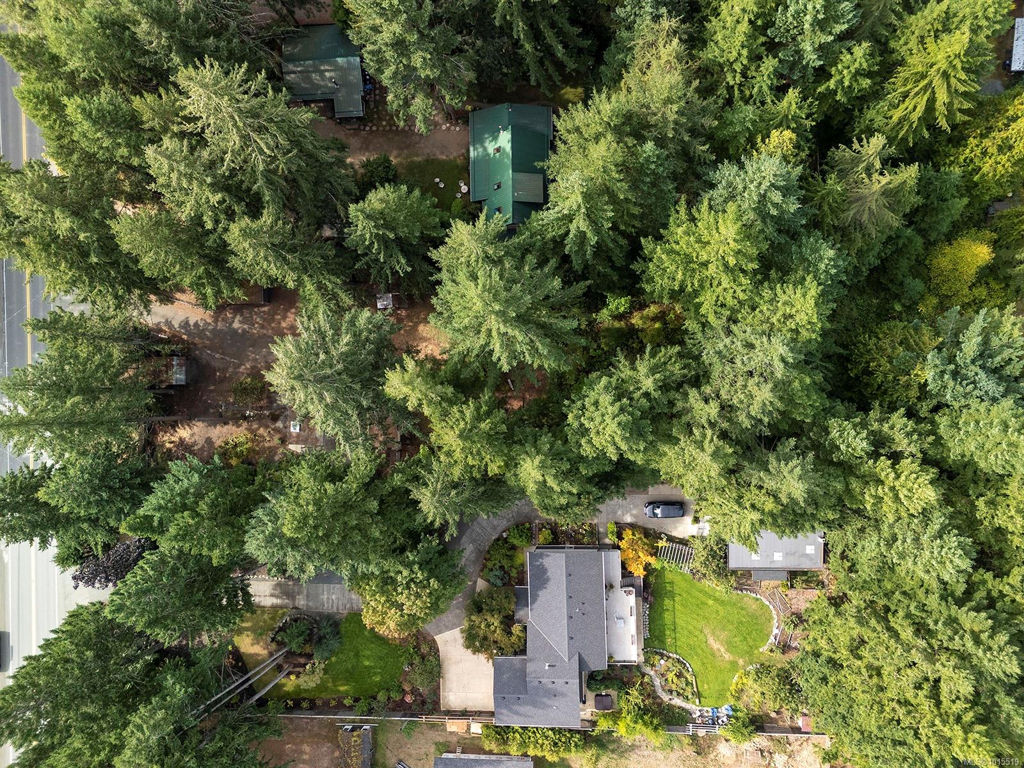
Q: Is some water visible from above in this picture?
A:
No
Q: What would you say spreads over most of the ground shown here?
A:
trees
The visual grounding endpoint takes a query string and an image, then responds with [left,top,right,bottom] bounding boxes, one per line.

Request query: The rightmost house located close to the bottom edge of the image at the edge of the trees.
[494,543,643,730]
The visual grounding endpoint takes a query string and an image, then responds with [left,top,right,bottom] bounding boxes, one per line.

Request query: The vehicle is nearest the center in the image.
[645,501,686,520]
